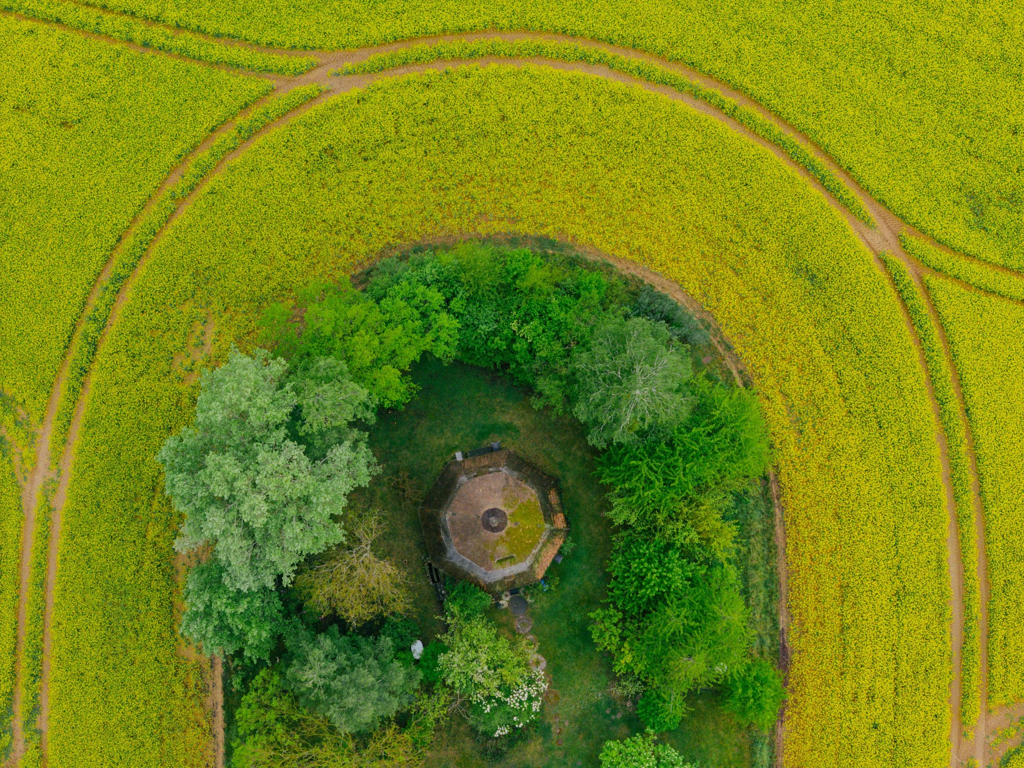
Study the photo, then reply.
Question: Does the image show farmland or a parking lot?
farmland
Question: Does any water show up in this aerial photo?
No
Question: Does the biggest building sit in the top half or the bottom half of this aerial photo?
bottom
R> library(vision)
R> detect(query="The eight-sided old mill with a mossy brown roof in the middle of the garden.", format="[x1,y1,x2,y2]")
[419,450,570,592]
